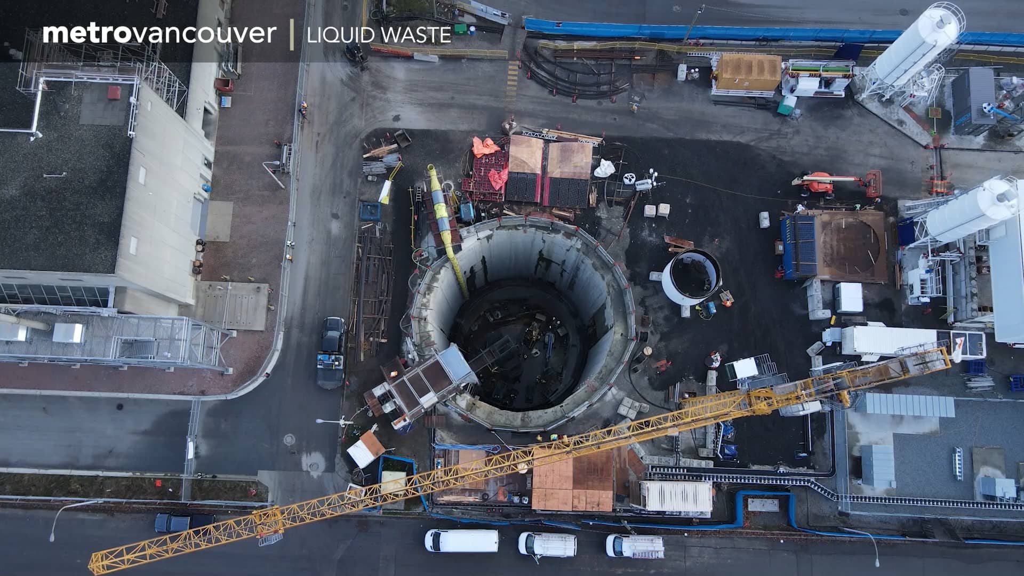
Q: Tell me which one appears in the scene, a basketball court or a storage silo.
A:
storage silo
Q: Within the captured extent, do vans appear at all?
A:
Yes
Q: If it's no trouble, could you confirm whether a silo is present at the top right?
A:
Yes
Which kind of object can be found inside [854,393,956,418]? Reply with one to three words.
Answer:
shed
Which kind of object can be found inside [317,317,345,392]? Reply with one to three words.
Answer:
truck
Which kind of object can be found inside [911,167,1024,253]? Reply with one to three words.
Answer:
silo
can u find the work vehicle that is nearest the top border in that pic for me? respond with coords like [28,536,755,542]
[339,33,371,73]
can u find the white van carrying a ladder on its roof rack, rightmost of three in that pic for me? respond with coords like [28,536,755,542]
[603,535,671,565]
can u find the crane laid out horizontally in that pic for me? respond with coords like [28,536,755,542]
[86,331,953,573]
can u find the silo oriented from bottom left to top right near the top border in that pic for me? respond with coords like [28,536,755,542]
[854,0,972,105]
